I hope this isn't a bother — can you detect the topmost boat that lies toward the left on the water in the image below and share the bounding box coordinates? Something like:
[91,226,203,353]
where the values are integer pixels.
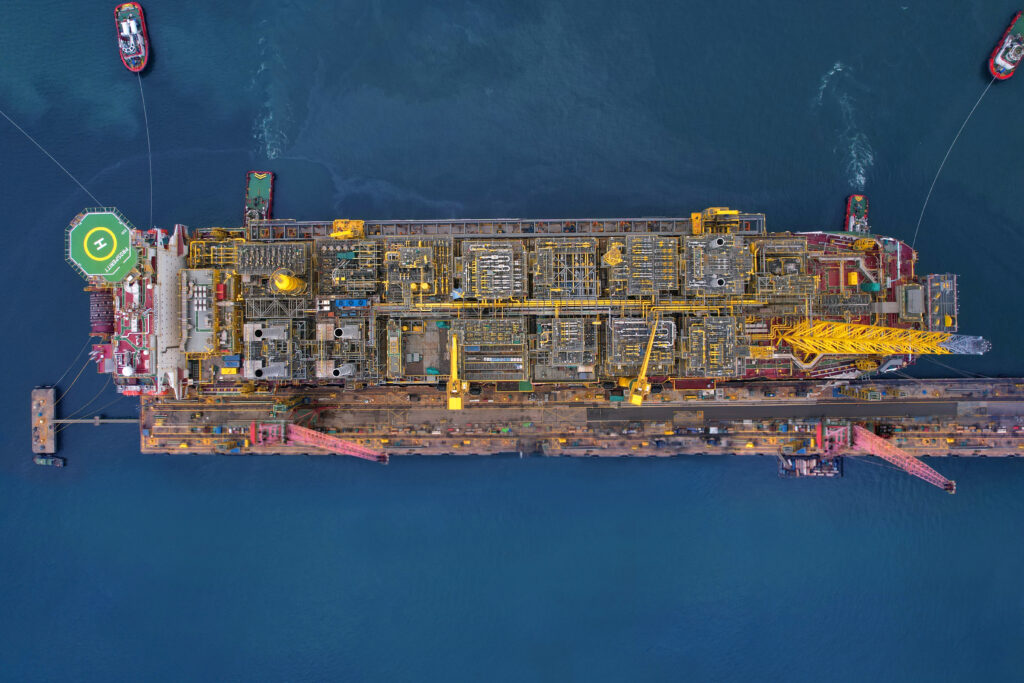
[115,1,150,71]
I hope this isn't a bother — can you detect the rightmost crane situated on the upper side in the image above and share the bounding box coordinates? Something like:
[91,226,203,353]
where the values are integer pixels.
[688,207,739,235]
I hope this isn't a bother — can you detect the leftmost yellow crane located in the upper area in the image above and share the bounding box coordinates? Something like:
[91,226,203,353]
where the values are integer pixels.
[330,219,365,239]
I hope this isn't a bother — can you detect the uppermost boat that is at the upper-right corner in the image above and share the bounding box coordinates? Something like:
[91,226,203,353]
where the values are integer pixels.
[992,14,1024,81]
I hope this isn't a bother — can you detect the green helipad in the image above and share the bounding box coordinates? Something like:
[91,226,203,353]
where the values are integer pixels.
[65,208,139,282]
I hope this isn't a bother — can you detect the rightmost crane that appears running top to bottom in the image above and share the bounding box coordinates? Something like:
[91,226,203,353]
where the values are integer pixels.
[628,319,659,405]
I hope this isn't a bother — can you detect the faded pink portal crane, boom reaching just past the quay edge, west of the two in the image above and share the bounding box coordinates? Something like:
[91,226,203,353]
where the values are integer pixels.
[250,419,396,465]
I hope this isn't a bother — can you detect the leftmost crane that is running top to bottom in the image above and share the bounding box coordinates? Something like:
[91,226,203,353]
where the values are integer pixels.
[447,333,470,409]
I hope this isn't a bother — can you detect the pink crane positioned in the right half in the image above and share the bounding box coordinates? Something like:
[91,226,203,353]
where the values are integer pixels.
[814,421,955,494]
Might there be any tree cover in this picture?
No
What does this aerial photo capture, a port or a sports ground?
port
